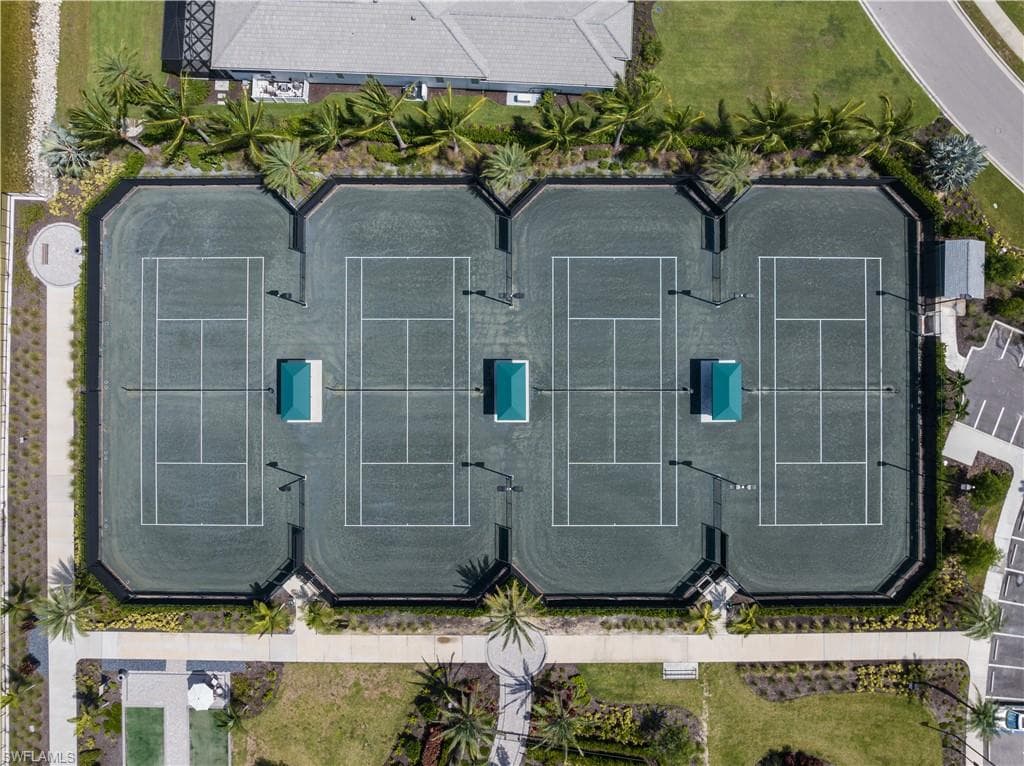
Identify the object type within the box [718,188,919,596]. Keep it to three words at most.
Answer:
tennis court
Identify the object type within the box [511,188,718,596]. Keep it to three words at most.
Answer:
tennis court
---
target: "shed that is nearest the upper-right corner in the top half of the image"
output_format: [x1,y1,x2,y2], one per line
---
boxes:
[935,239,986,297]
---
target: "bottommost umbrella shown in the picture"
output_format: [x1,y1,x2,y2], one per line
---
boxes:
[189,682,214,707]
